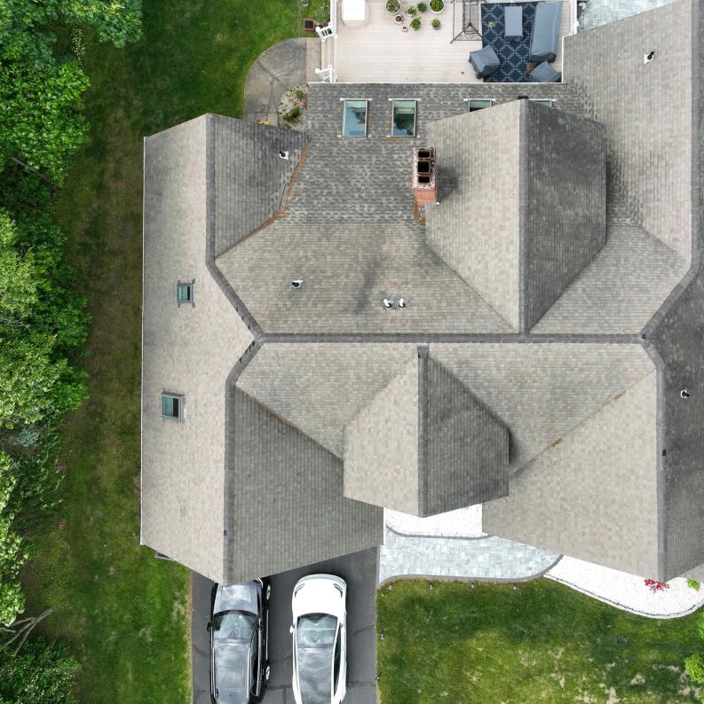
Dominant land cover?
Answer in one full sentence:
The largest share of the image is taken up by buildings.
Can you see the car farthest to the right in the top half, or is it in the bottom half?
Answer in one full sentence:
The car farthest to the right sits in the bottom half of the picture.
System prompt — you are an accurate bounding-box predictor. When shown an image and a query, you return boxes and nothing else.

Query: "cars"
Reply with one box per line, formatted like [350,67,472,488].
[287,569,348,704]
[203,574,270,704]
